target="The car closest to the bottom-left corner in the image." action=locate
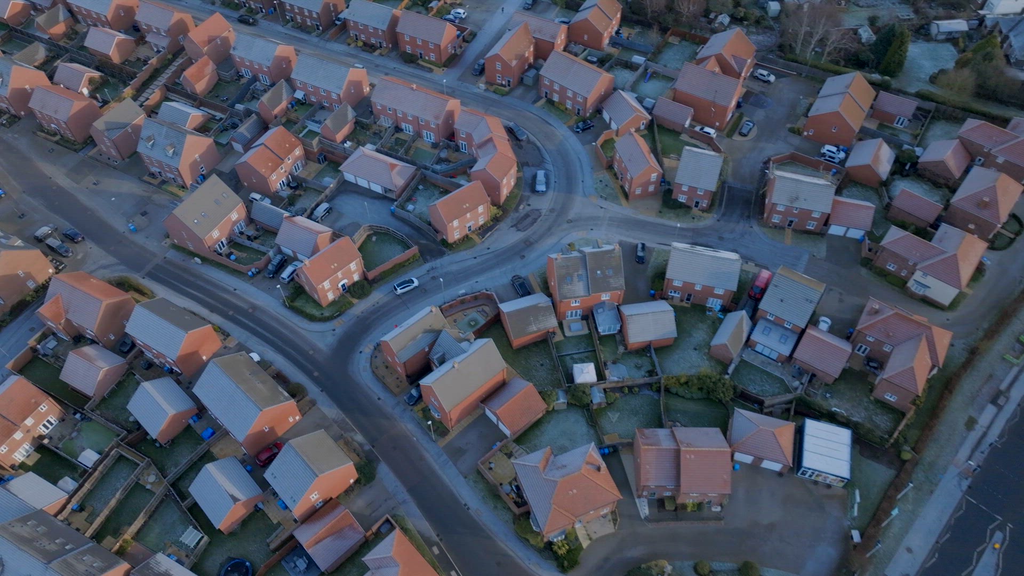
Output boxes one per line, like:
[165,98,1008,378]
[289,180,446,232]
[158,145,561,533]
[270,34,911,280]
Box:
[116,333,135,356]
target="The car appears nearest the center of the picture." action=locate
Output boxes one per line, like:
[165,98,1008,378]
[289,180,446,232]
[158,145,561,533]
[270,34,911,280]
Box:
[511,273,531,294]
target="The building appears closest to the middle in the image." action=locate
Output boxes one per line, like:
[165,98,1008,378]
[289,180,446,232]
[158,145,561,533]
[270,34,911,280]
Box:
[497,292,558,348]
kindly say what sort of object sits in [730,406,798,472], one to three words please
building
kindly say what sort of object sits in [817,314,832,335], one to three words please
car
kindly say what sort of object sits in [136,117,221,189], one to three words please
house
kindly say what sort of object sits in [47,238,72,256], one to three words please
car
